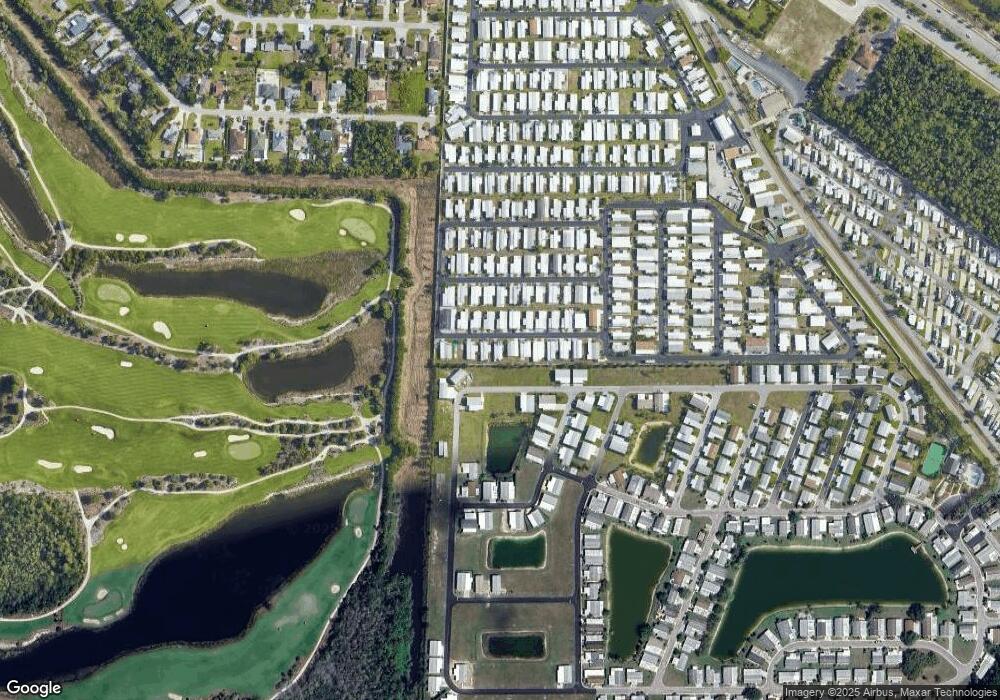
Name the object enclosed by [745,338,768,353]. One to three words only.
house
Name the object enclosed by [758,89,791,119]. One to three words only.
building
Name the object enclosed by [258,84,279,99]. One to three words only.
house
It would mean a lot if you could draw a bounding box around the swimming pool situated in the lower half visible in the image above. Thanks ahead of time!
[964,464,985,486]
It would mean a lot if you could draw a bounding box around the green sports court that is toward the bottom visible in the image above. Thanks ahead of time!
[922,442,946,476]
